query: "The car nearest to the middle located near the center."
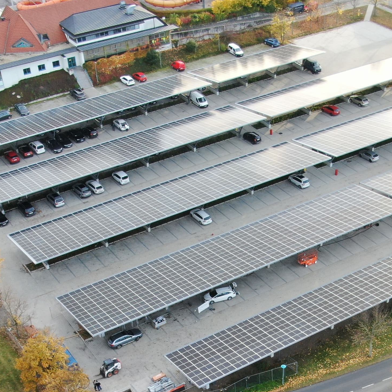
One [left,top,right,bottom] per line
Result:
[189,211,213,229]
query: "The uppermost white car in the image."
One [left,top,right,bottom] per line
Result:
[227,42,243,55]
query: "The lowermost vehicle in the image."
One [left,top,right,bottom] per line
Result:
[91,356,121,382]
